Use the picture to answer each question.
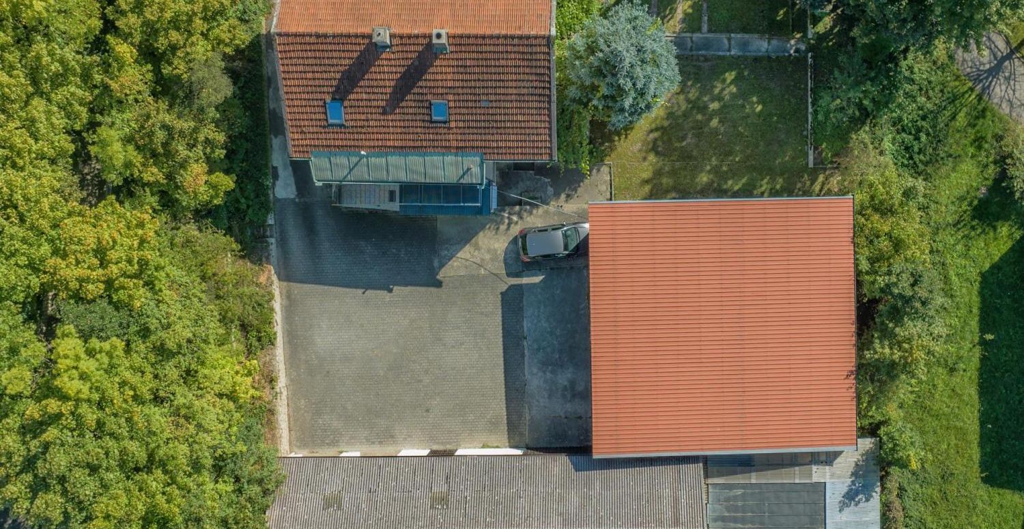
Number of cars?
1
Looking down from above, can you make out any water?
No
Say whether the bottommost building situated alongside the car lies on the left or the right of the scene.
right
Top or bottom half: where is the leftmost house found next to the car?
top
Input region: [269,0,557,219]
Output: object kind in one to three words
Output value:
house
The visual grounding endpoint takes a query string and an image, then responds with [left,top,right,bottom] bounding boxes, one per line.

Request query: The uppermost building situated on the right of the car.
[589,195,858,458]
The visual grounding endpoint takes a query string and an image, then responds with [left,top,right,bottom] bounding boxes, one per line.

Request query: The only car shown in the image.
[517,224,589,264]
